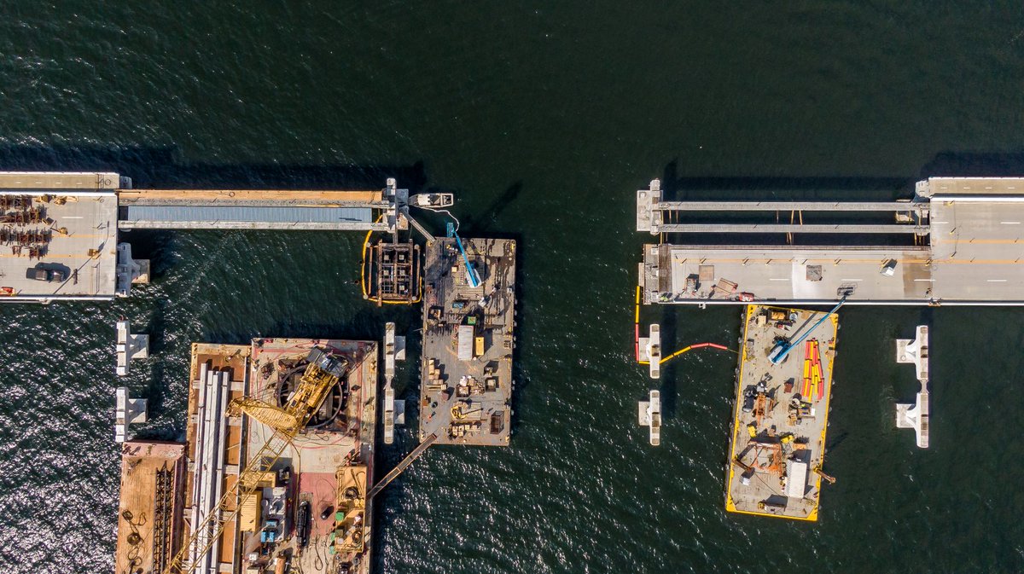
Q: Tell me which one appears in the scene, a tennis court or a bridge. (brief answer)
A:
bridge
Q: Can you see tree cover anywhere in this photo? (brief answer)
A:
No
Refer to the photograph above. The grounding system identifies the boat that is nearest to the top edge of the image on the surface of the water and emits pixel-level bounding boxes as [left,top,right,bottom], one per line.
[410,192,454,208]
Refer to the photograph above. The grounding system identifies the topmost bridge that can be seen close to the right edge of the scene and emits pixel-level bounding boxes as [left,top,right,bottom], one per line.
[658,178,1024,306]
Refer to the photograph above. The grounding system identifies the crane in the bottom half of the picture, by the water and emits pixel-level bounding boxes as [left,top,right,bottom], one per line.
[162,343,355,574]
